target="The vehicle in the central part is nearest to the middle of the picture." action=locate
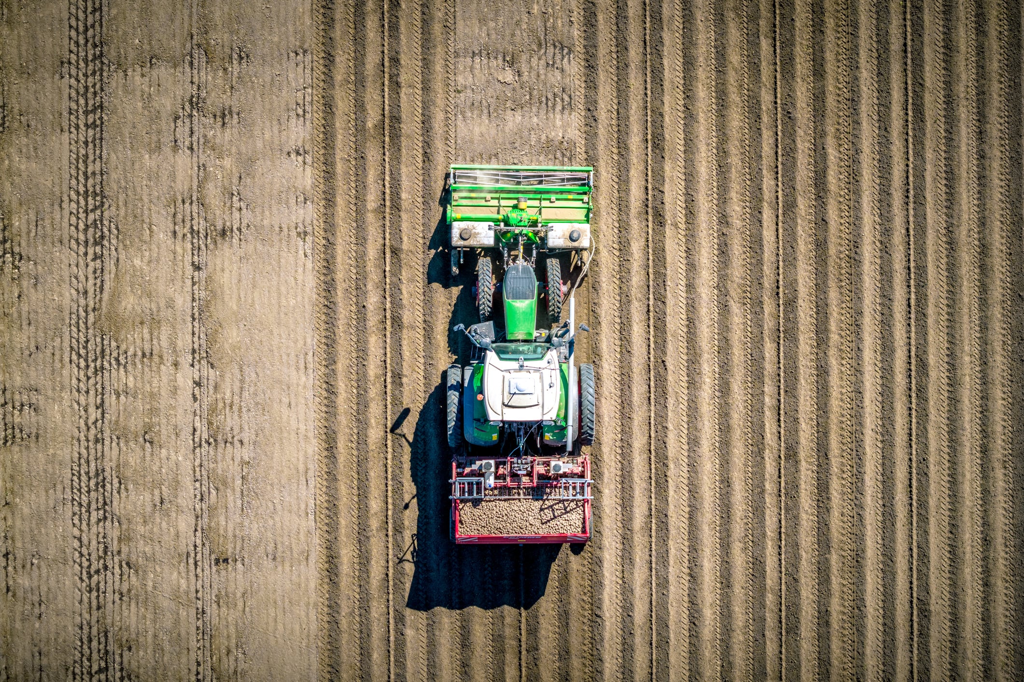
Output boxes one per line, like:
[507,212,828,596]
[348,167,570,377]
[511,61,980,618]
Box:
[447,230,595,456]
